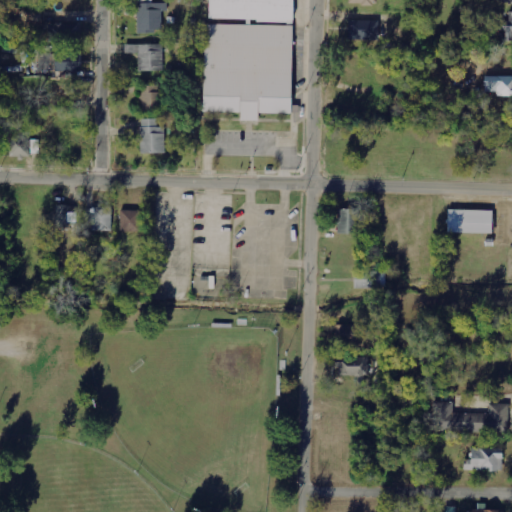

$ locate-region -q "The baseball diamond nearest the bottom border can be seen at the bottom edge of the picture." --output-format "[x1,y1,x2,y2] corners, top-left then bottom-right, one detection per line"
[0,438,171,512]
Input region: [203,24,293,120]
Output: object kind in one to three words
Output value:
building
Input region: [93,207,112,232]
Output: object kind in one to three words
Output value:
house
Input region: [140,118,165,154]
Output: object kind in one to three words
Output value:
house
